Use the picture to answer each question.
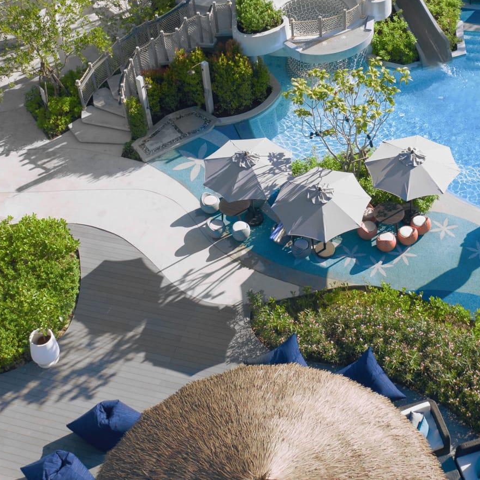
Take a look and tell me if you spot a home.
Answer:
No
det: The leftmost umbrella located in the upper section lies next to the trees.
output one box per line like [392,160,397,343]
[197,135,301,229]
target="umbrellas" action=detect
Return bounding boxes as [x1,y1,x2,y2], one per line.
[99,371,446,480]
[266,164,374,262]
[197,135,301,229]
[363,137,464,224]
